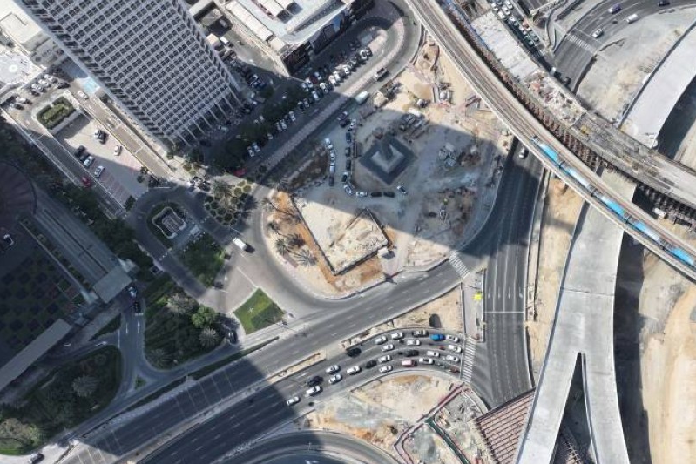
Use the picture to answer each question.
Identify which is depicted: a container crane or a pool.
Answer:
pool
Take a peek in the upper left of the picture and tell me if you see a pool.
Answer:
Yes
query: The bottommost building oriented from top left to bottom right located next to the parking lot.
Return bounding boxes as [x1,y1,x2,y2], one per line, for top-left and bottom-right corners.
[35,196,130,290]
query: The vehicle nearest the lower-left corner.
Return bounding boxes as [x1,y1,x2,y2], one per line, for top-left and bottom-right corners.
[28,451,44,464]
